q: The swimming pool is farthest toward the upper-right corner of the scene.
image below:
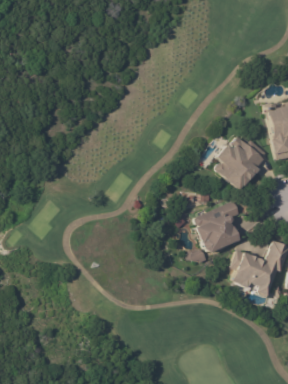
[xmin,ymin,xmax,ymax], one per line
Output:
[265,84,288,98]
